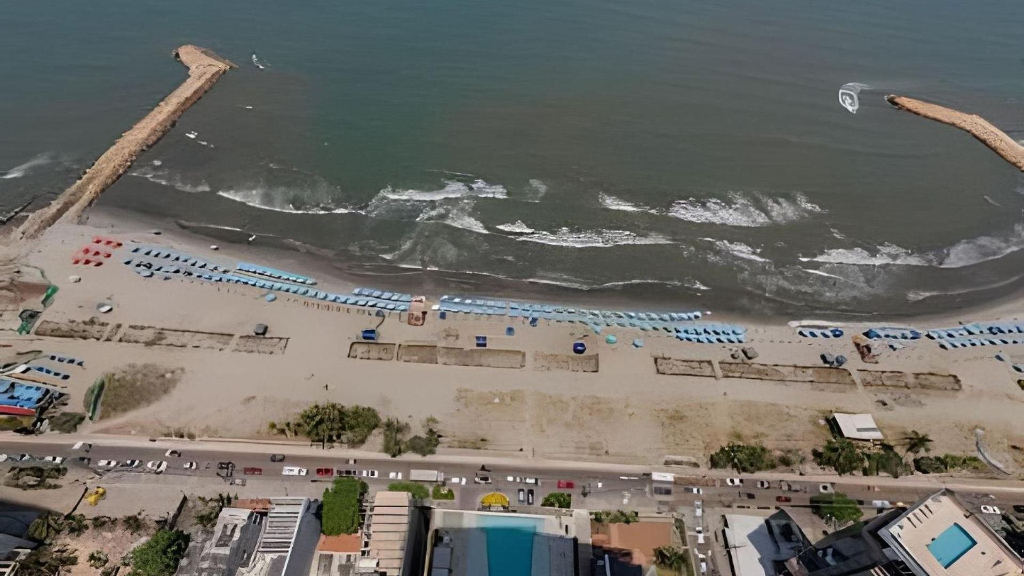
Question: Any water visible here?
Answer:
Yes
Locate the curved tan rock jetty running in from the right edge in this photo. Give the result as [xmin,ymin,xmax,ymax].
[892,98,1024,172]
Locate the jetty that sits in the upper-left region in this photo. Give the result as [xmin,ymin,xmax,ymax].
[21,48,231,240]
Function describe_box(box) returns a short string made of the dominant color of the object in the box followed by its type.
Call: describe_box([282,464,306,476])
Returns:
white vehicle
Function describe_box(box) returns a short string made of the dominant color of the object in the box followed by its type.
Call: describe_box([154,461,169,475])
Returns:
white car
